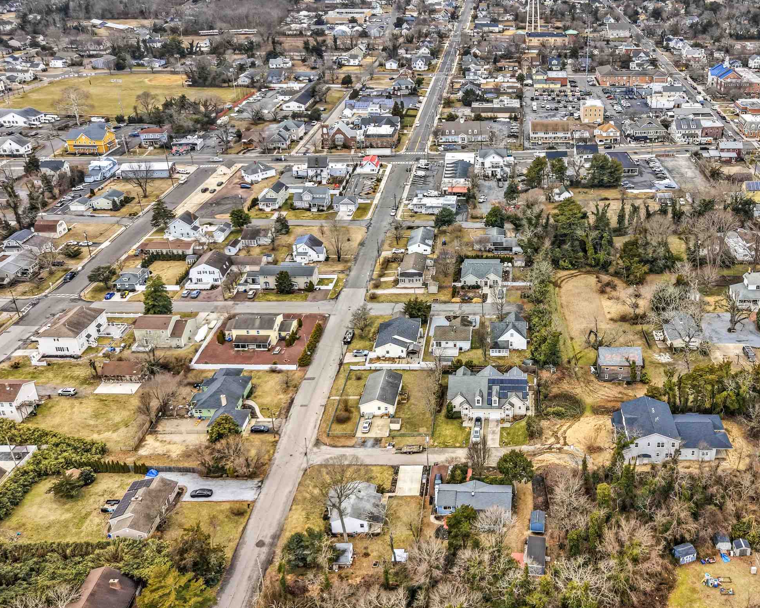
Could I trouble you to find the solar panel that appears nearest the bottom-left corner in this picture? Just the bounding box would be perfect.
[121,479,155,512]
